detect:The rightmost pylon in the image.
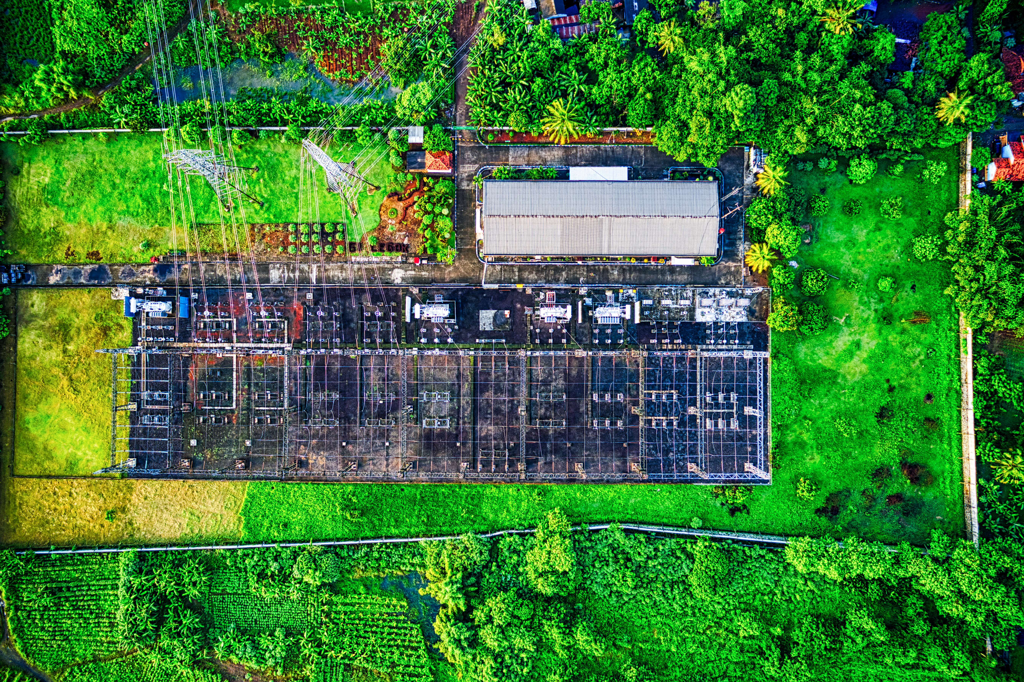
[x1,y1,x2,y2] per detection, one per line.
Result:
[302,140,381,218]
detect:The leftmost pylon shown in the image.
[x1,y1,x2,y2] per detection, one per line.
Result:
[161,150,264,212]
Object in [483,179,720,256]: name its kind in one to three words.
building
